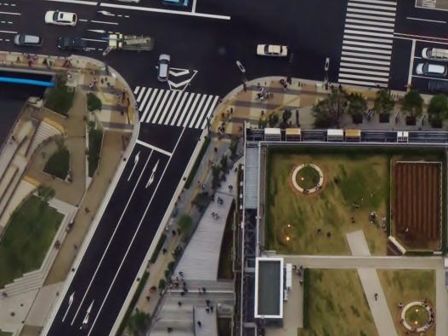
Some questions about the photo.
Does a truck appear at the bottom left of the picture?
No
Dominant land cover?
paved ground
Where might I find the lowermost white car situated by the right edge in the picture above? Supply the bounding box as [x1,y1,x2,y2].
[417,63,446,78]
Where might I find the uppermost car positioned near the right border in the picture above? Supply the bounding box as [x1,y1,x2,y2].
[422,45,448,60]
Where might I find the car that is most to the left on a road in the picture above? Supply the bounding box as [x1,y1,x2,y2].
[14,32,43,47]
